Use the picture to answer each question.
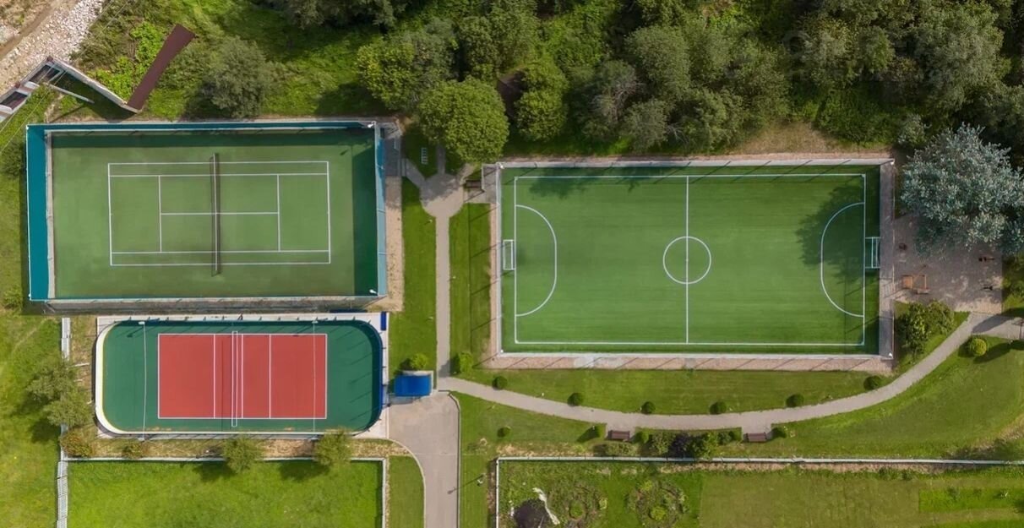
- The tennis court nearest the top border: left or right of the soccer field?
to the left of it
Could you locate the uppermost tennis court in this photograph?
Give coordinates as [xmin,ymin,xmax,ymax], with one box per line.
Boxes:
[48,131,385,296]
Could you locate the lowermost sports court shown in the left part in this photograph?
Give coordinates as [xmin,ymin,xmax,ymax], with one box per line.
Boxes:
[103,322,378,432]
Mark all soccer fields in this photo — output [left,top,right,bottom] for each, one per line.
[499,163,882,357]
